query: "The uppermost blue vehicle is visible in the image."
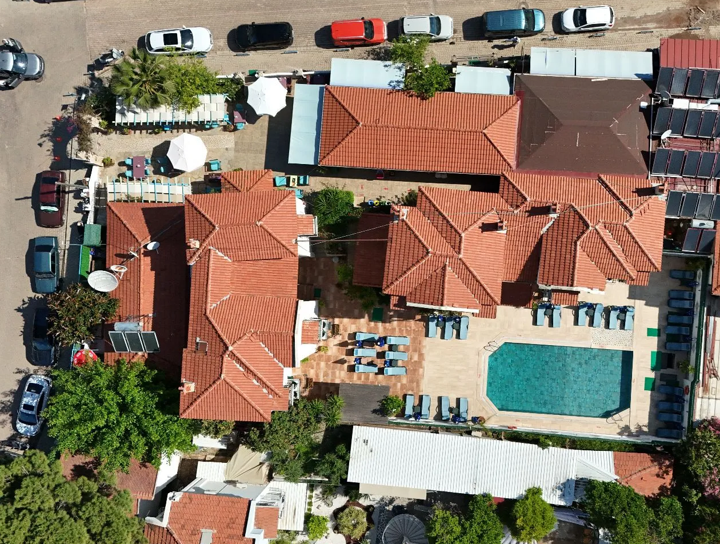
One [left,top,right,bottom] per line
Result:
[483,5,544,40]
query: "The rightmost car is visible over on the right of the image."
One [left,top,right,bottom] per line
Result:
[559,4,615,35]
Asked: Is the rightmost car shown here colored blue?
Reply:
No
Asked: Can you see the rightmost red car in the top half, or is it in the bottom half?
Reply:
top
